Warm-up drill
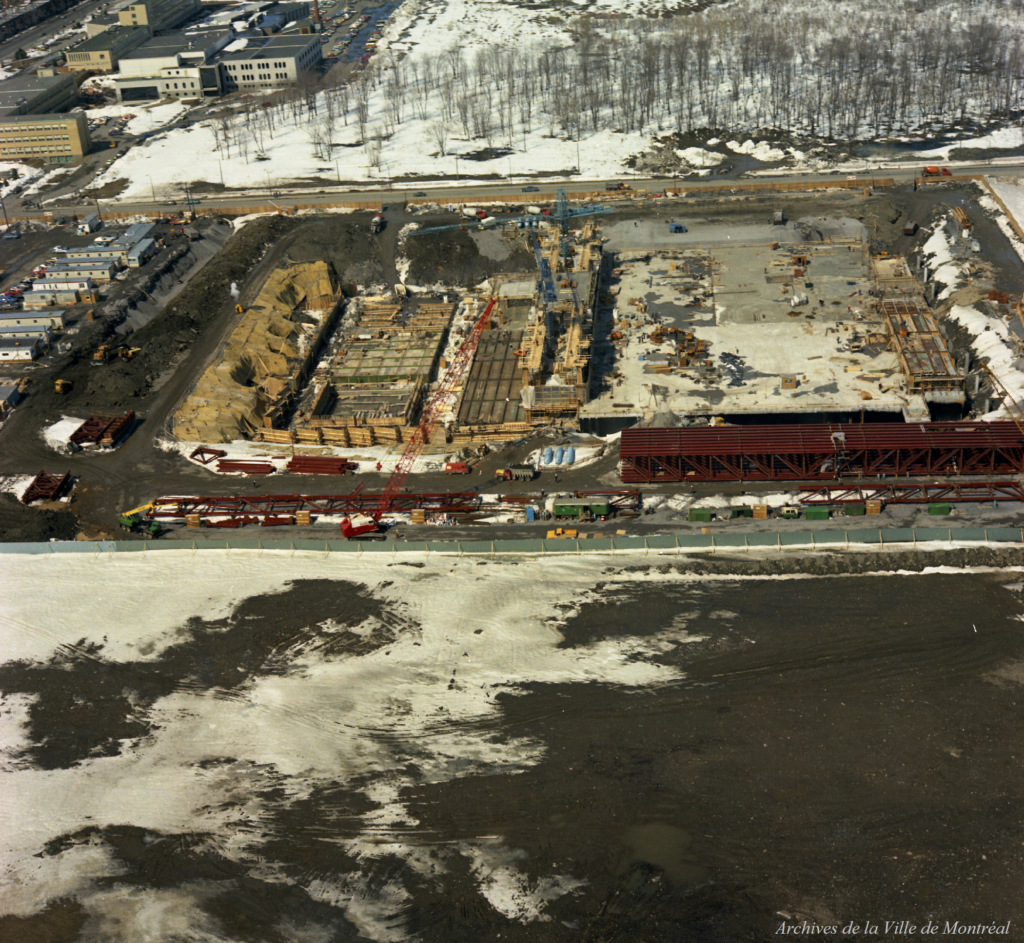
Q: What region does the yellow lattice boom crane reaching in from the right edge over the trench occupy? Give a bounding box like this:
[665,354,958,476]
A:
[980,362,1024,432]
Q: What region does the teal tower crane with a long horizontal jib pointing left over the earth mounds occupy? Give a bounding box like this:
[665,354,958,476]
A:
[401,182,612,260]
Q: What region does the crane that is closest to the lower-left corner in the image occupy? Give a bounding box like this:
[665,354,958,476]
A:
[111,497,179,537]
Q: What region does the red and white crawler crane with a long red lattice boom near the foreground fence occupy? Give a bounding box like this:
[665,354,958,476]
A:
[339,295,503,541]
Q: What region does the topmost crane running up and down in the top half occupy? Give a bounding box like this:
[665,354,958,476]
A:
[529,225,555,355]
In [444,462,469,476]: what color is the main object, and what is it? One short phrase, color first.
red vehicle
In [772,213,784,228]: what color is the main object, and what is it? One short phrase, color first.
gray vehicle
